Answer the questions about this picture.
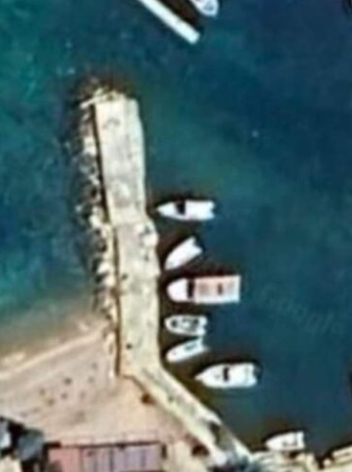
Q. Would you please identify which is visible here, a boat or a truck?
boat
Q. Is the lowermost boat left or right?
right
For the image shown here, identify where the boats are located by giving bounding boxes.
[159,334,213,360]
[158,274,241,303]
[157,234,204,274]
[249,432,309,458]
[192,0,216,18]
[148,199,219,219]
[158,314,208,335]
[185,363,263,388]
